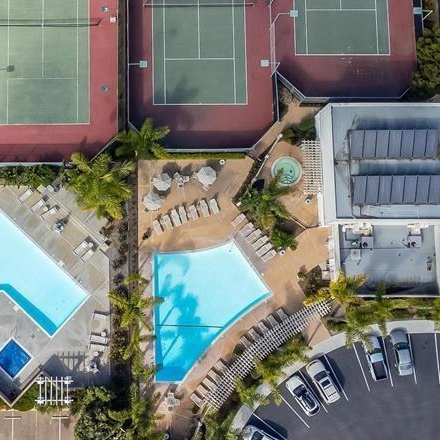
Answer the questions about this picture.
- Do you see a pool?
Yes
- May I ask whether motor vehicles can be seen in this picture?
Yes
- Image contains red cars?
No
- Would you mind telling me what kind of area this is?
sports ground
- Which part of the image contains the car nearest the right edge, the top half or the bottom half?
bottom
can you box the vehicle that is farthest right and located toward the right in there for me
[389,330,414,377]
